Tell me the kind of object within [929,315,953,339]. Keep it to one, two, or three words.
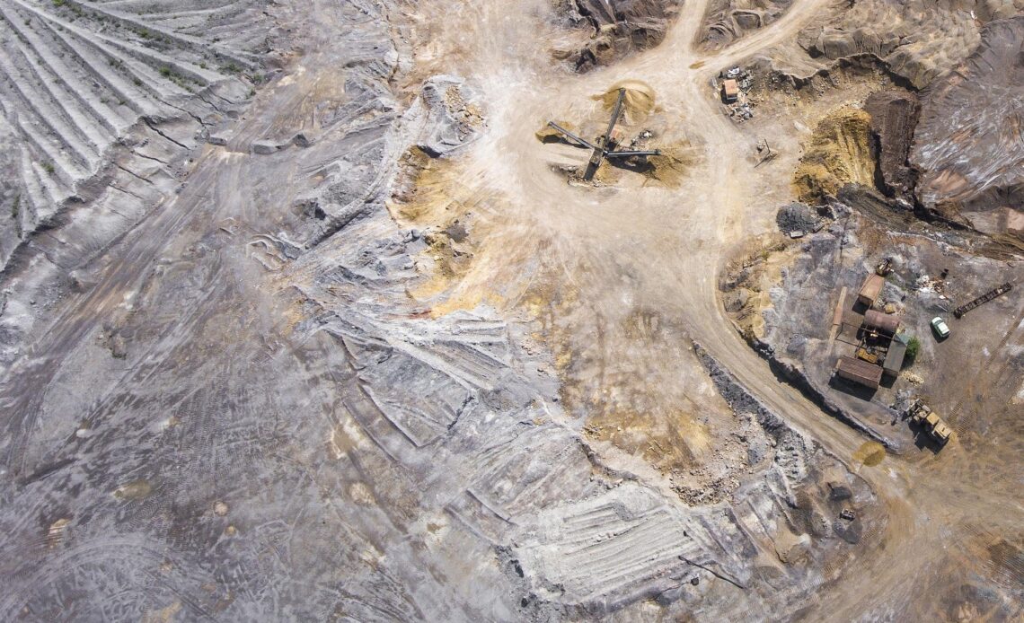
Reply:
car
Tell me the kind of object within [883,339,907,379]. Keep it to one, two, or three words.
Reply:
shed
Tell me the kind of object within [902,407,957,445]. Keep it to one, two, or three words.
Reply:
work vehicle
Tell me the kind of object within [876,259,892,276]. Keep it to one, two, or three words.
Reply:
work vehicle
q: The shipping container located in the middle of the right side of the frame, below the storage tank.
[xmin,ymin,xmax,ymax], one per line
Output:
[835,355,885,392]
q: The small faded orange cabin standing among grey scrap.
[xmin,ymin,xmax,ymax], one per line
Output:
[722,81,738,105]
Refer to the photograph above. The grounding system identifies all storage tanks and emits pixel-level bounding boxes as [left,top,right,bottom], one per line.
[862,309,901,339]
